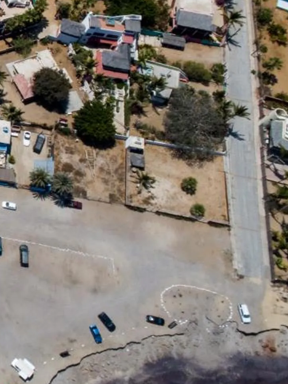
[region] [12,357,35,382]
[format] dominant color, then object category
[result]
white camper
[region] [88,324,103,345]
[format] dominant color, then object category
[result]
blue vehicle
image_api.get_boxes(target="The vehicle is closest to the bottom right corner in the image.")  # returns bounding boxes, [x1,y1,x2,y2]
[235,303,252,324]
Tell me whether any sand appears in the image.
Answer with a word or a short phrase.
Yes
